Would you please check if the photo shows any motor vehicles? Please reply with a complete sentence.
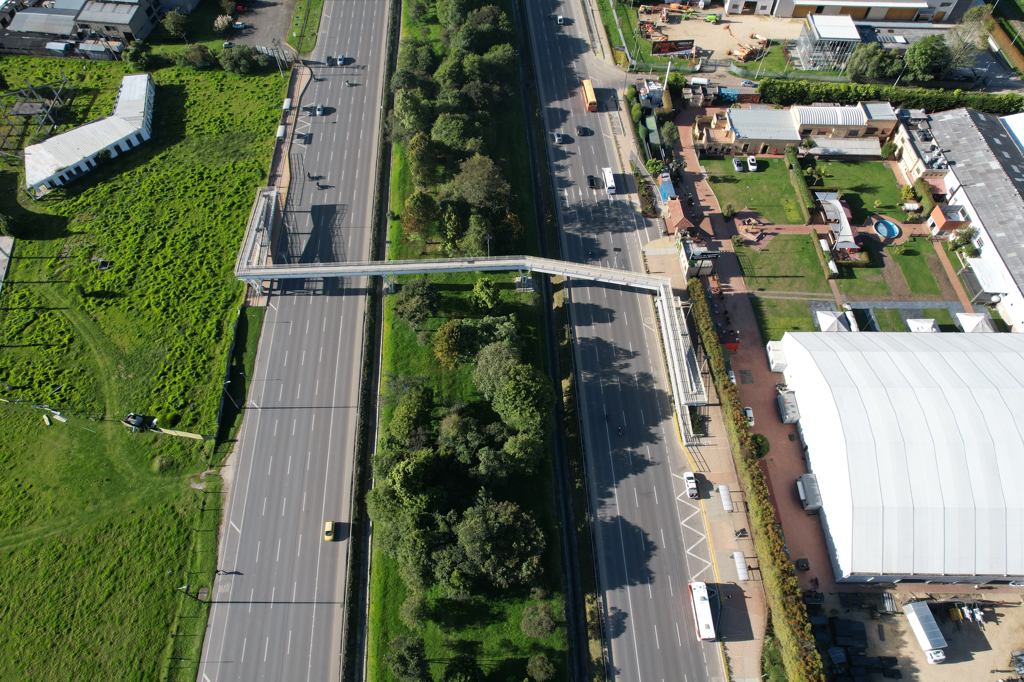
Yes, there's a motor vehicle here.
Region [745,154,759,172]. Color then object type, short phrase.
white car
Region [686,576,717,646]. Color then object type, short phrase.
white bus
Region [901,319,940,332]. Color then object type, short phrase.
white tent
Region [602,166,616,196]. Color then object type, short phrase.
white vehicle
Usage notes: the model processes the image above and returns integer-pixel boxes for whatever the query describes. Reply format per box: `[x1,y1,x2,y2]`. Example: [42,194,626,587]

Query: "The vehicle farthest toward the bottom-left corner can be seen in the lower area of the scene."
[323,520,336,543]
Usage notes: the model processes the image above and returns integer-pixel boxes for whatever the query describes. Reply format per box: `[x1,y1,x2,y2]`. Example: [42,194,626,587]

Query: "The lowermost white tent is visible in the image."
[782,331,1024,588]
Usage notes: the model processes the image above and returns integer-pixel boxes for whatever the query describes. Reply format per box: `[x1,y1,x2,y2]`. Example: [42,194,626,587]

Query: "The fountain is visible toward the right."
[872,220,900,242]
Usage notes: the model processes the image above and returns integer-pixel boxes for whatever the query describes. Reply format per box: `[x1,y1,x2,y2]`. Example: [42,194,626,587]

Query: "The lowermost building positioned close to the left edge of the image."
[23,72,155,199]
